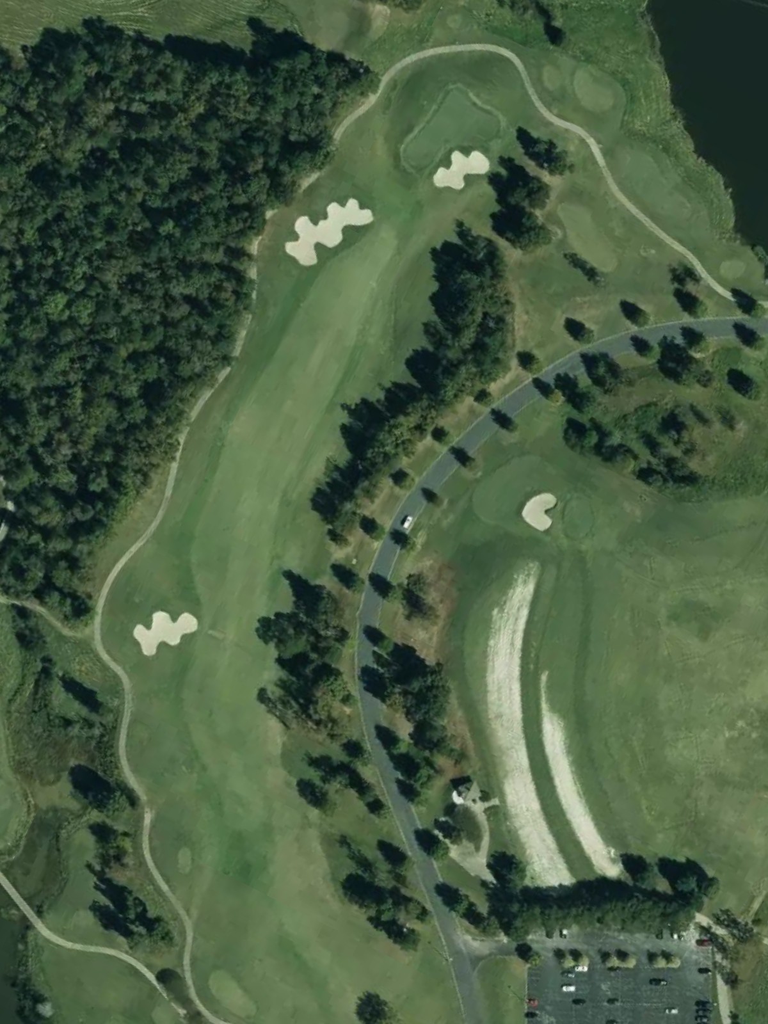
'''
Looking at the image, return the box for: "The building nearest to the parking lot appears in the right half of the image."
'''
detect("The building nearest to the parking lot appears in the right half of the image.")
[457,781,481,802]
